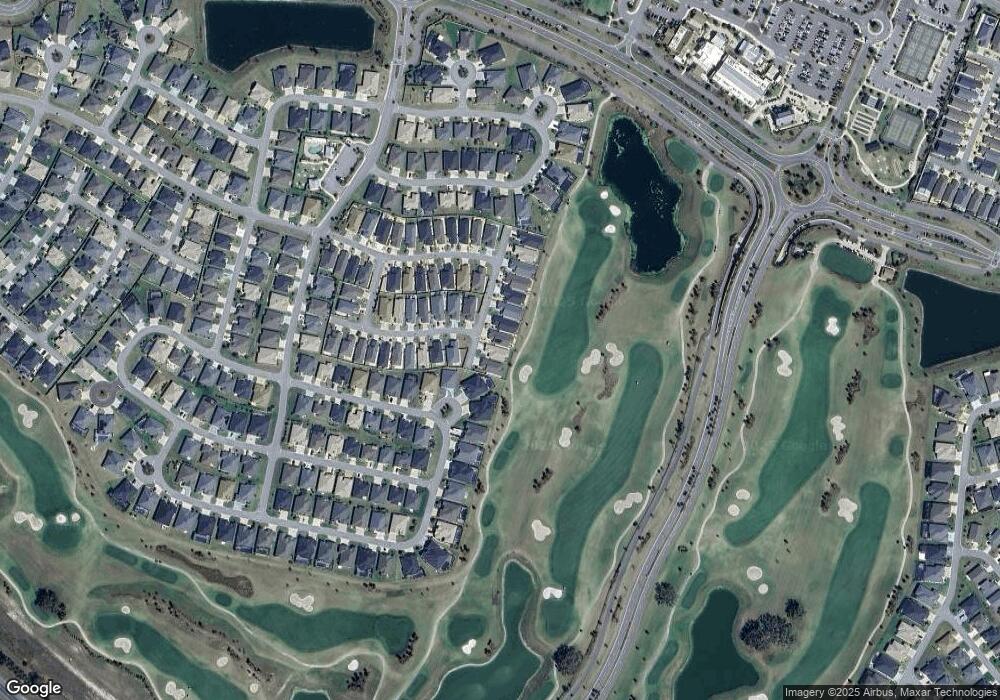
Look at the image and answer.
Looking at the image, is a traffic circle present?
Yes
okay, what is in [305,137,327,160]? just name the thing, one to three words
swimming pool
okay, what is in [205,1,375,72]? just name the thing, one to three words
pond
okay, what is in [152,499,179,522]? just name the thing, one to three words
house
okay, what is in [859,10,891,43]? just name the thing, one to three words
roundabout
